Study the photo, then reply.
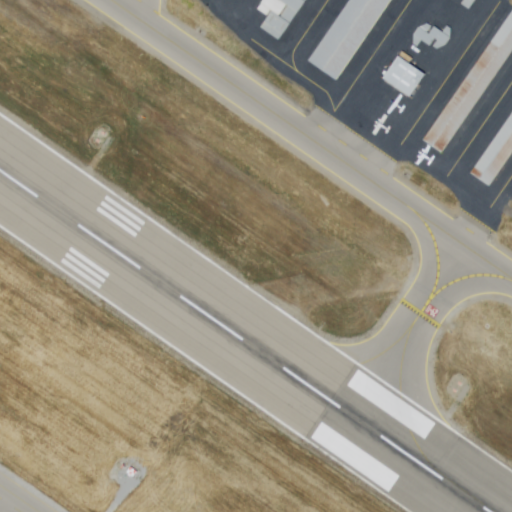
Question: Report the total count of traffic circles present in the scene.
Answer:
0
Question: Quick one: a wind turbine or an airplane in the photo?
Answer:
airplane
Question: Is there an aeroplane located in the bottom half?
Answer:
No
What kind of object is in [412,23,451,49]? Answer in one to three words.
hangar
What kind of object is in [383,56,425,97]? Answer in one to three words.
hangar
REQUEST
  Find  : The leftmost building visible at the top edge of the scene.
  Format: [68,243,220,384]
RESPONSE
[257,0,307,40]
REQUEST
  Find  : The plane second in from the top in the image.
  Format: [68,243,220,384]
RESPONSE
[374,114,391,135]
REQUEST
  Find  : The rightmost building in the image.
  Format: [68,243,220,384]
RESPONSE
[470,112,512,186]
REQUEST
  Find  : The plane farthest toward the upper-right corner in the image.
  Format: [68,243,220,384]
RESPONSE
[388,94,405,114]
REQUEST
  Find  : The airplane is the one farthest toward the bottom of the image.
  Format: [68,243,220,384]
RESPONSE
[416,146,434,166]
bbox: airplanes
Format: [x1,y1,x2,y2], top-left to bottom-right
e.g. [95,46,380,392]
[416,146,434,166]
[374,114,391,135]
[388,94,405,114]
